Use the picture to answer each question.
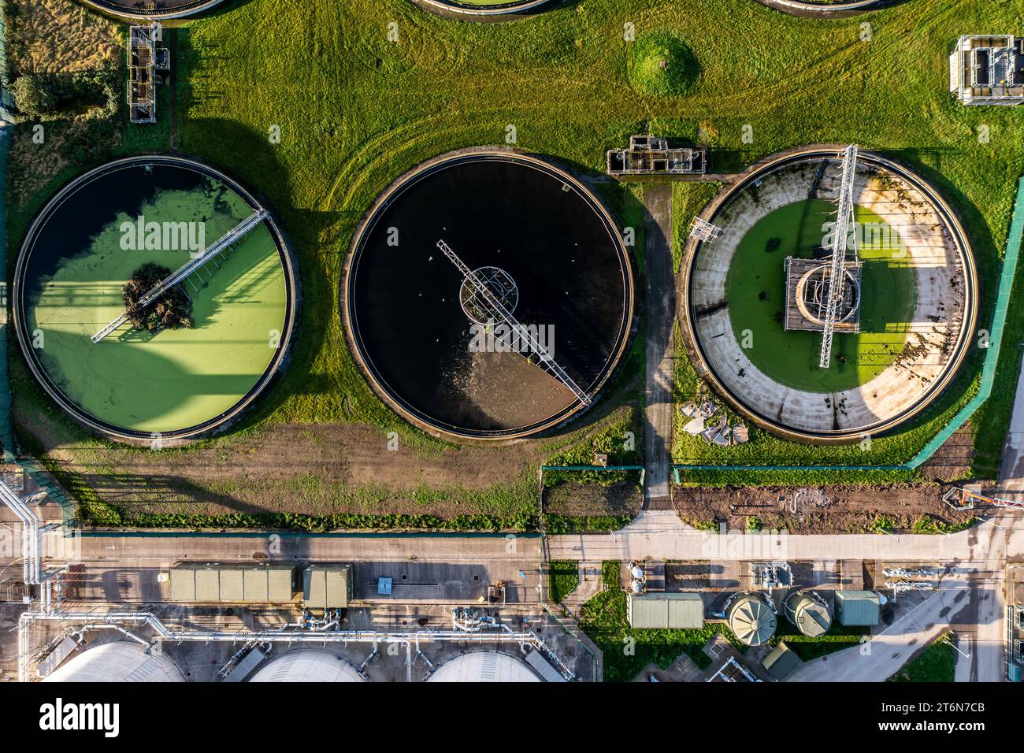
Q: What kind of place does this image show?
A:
industrial area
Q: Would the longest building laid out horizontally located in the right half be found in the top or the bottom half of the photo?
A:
bottom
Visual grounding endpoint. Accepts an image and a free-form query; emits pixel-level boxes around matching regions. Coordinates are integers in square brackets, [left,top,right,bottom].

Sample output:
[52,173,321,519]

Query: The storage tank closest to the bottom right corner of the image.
[781,587,831,636]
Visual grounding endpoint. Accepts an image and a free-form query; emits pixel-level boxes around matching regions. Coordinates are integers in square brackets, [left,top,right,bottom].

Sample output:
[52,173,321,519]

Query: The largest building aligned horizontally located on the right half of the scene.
[626,591,703,628]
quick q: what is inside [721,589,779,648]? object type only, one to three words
storage tank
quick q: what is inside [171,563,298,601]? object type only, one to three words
building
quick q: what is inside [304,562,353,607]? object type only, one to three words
building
